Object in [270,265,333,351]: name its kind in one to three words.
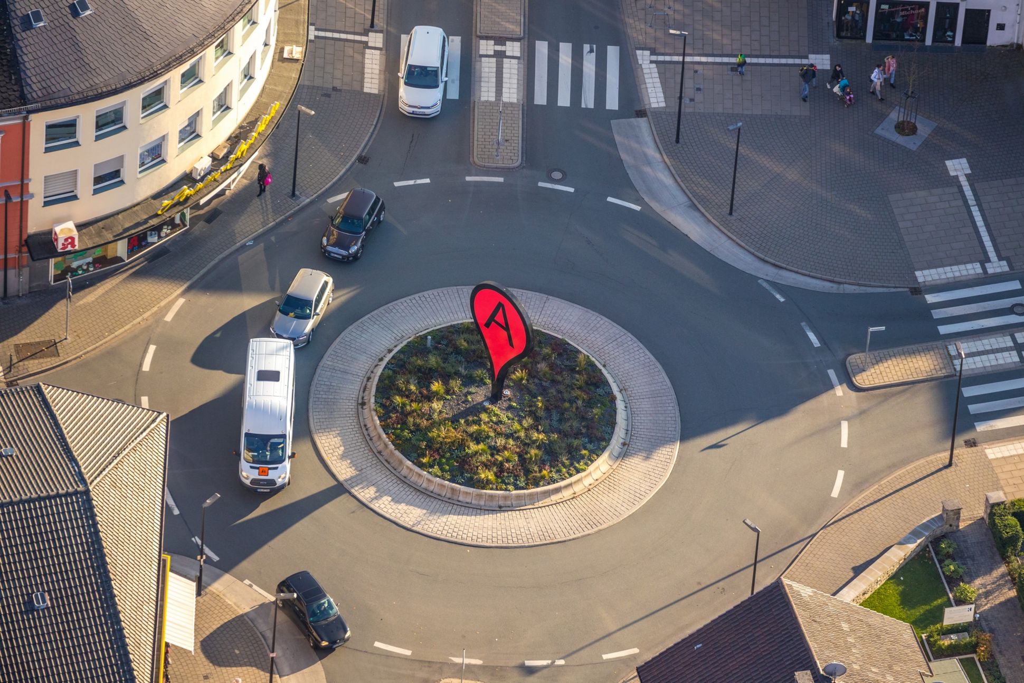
car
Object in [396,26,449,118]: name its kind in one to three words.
car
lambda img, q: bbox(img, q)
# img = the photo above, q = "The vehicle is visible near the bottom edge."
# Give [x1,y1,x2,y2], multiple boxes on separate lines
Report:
[281,569,353,650]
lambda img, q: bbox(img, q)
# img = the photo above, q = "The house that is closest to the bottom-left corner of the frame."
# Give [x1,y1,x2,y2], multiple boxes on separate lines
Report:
[0,379,172,683]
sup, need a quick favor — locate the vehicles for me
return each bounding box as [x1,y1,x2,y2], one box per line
[270,265,333,351]
[281,569,353,650]
[396,26,449,118]
[320,185,384,262]
[235,338,297,491]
